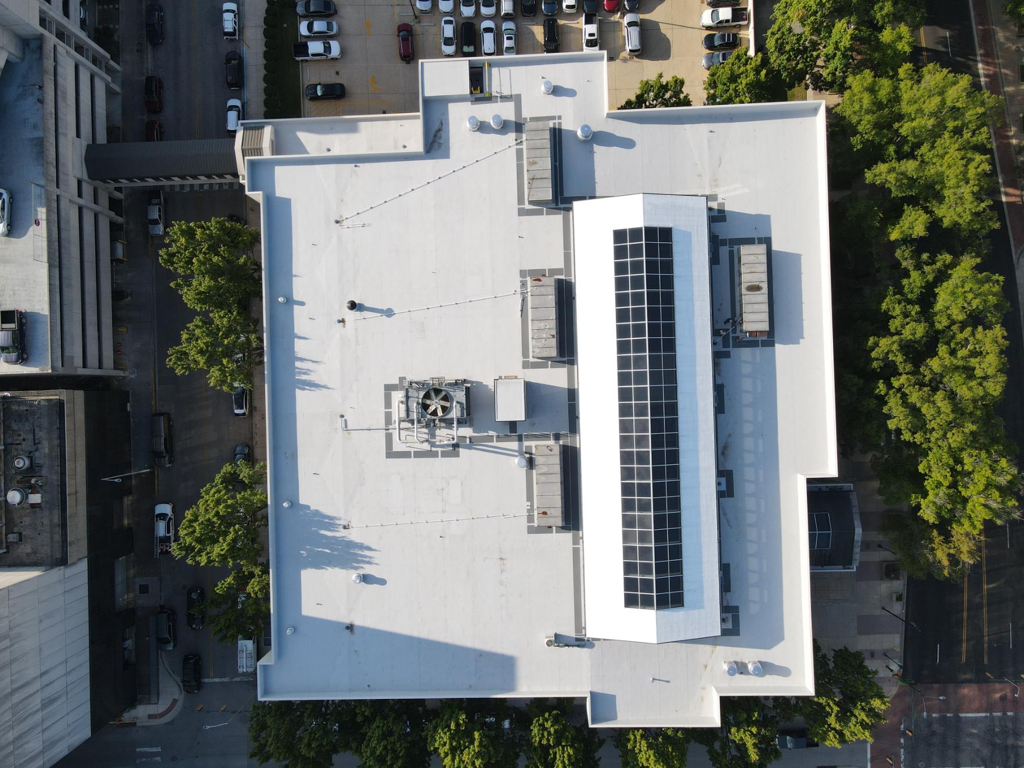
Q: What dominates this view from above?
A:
buildings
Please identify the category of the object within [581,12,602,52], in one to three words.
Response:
truck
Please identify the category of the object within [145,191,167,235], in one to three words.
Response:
truck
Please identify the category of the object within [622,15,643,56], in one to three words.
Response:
car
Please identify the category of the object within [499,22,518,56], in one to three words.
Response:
car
